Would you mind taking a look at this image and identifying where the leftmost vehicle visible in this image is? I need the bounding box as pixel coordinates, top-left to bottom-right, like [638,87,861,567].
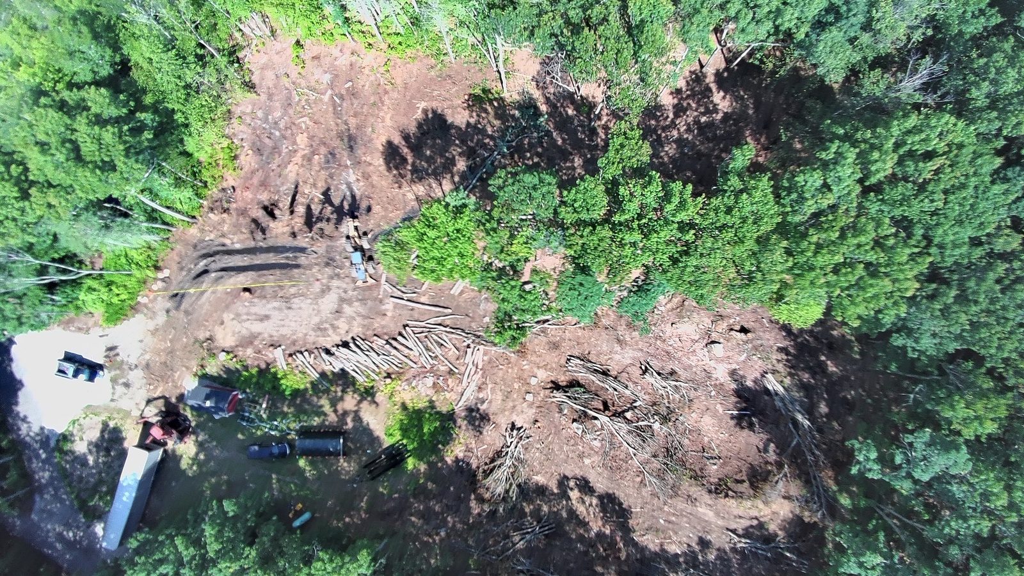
[49,357,102,382]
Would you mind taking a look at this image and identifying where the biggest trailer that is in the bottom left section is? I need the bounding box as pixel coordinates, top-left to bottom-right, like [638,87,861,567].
[100,441,161,551]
